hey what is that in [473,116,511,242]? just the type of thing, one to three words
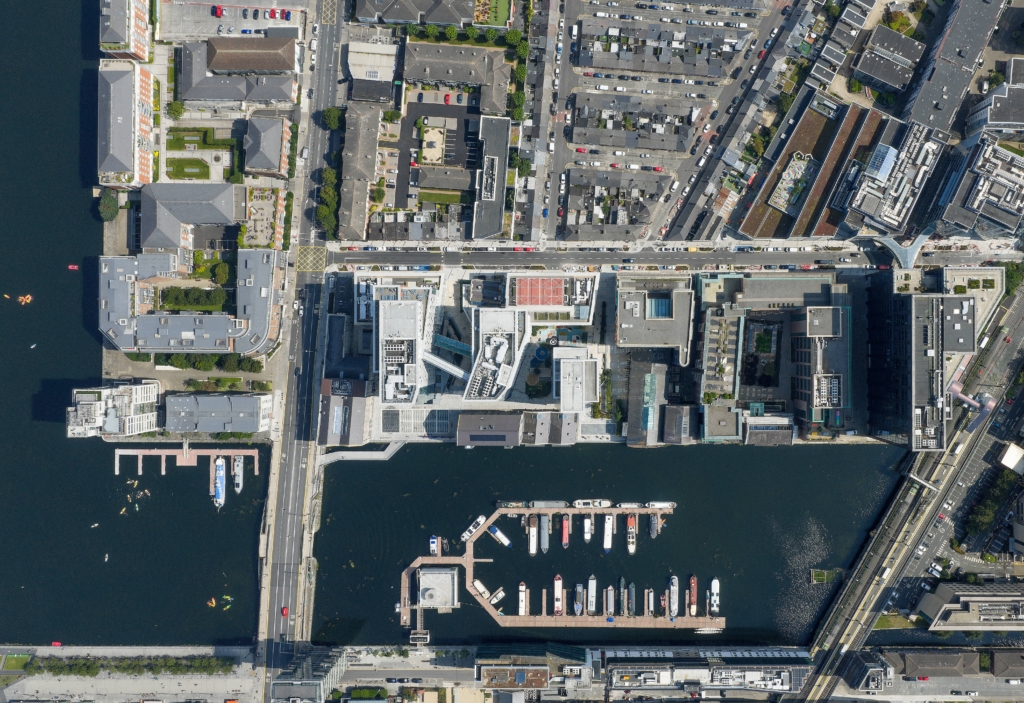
building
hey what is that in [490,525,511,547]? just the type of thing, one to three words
boat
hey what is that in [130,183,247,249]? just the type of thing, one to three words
house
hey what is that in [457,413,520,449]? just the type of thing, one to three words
building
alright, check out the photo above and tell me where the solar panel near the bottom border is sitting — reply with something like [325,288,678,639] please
[791,669,804,687]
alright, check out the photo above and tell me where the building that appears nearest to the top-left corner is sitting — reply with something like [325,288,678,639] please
[100,0,149,68]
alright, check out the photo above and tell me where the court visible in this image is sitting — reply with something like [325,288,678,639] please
[516,278,564,306]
